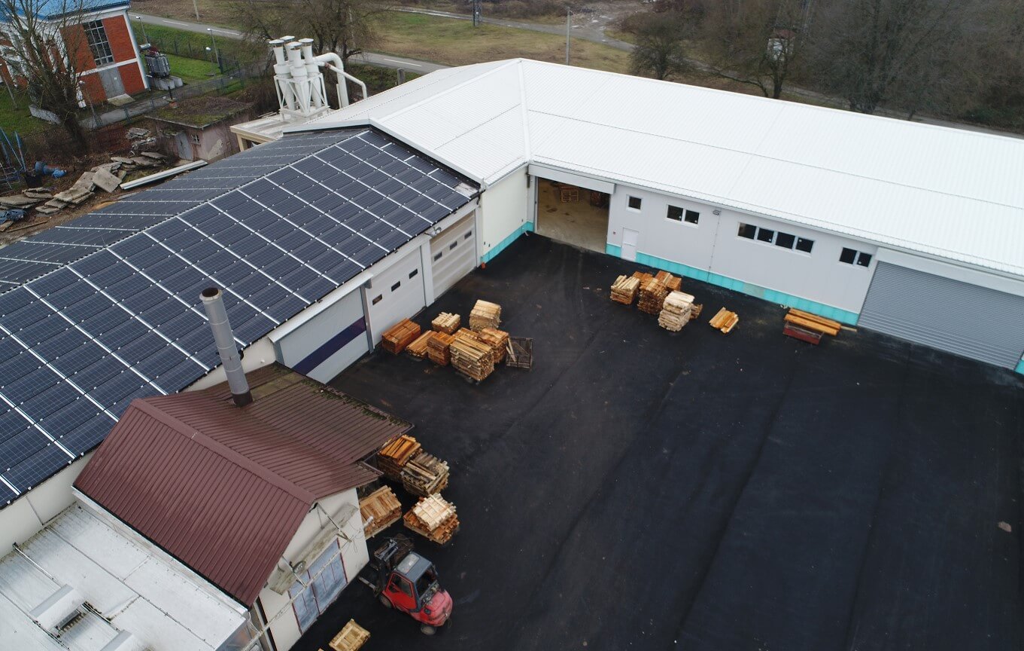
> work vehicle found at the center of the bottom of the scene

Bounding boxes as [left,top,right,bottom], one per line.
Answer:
[358,535,459,632]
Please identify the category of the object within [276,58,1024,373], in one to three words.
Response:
building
